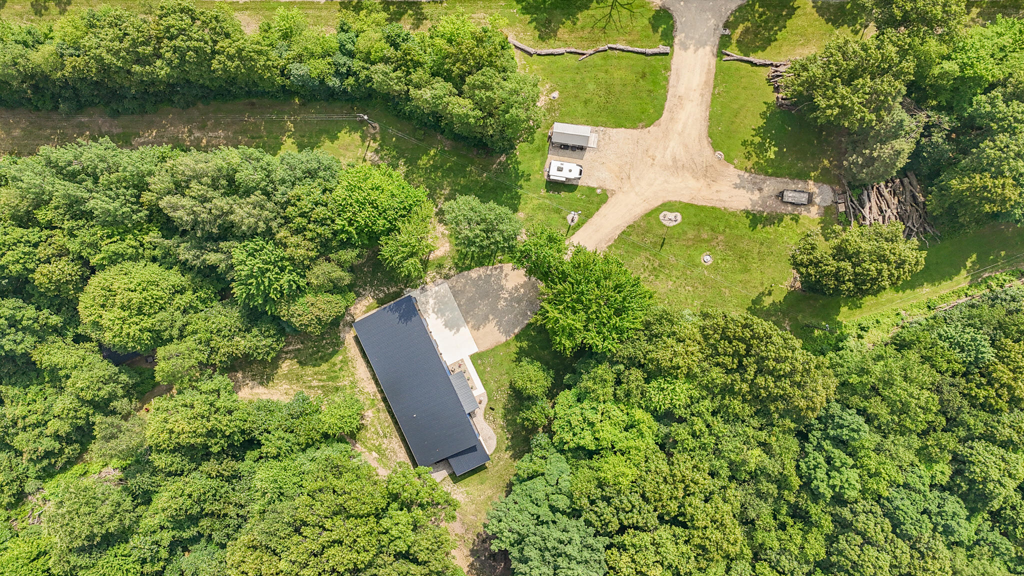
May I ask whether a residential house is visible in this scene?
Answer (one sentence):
Yes, the picture does show a residential house.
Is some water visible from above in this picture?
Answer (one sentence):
No, the scene doesn't show any water.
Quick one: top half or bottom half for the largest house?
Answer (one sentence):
Seen from above, the largest house lies in the bottom half of the view.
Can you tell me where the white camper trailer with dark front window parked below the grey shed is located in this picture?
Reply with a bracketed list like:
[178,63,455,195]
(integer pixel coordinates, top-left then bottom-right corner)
[548,161,585,180]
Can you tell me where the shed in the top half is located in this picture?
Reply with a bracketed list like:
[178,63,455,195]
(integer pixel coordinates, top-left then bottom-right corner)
[552,123,595,150]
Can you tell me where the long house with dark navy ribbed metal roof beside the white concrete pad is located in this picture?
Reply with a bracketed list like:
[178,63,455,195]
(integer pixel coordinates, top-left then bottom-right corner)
[352,296,490,476]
